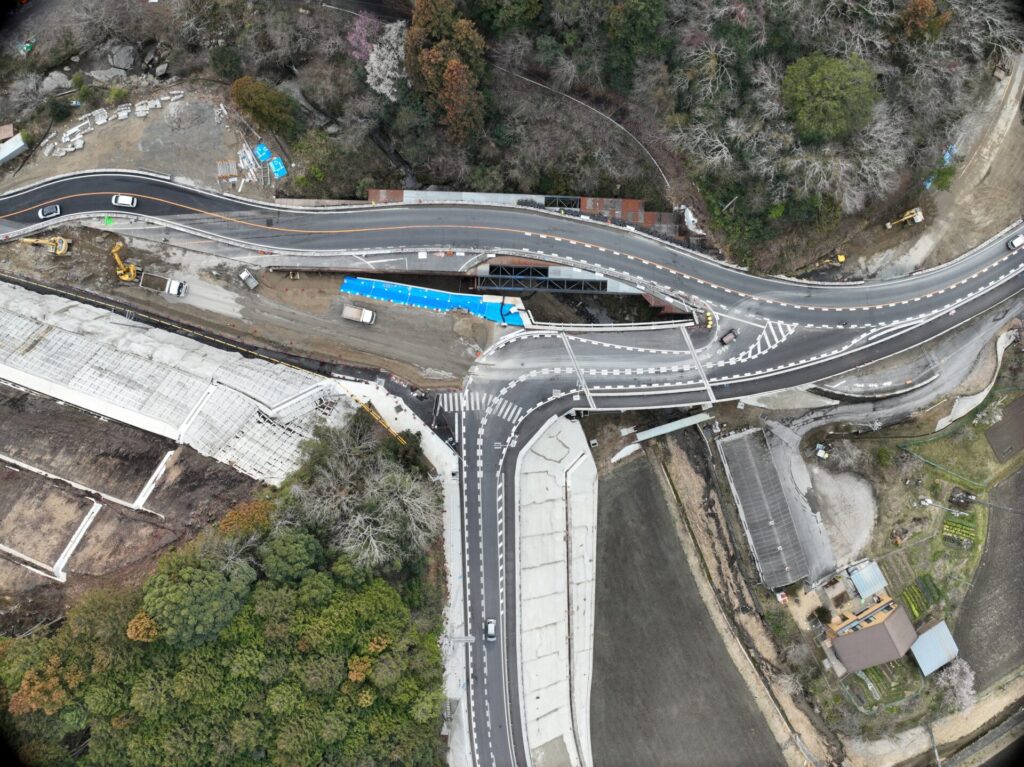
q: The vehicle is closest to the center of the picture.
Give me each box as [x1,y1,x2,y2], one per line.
[337,304,374,325]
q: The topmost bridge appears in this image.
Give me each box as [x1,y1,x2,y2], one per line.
[519,296,700,333]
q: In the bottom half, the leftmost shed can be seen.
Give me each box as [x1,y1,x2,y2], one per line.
[714,430,809,590]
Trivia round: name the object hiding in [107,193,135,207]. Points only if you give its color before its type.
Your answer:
white car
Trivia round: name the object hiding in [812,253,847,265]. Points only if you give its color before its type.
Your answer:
yellow vehicle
